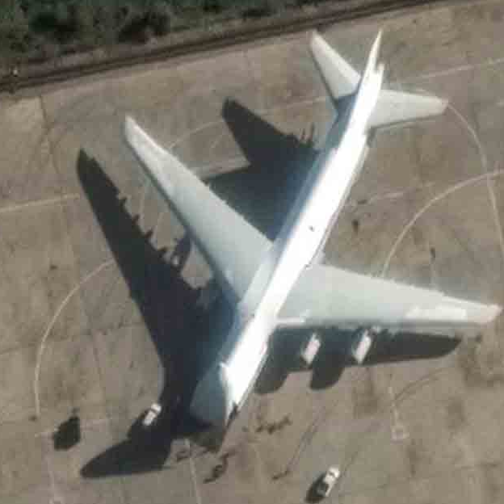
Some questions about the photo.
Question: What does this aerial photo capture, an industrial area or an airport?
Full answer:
It's an airport.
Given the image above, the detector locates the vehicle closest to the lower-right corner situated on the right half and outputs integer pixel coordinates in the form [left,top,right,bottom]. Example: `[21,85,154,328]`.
[316,469,340,502]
